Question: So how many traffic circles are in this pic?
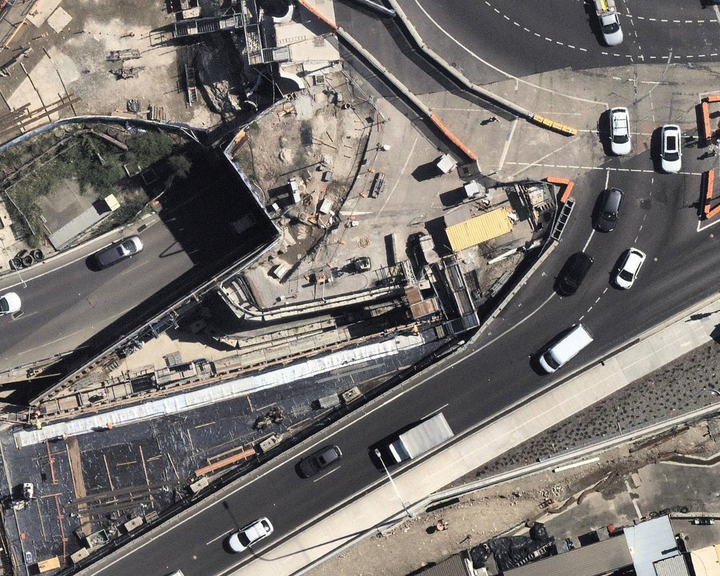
none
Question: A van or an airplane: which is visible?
van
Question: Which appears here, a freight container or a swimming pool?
freight container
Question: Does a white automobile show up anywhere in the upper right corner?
Yes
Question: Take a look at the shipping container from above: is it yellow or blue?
yellow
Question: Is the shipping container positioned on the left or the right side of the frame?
right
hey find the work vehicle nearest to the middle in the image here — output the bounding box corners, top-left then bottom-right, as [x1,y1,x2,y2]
[341,253,375,274]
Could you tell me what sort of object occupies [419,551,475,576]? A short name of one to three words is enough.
shed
